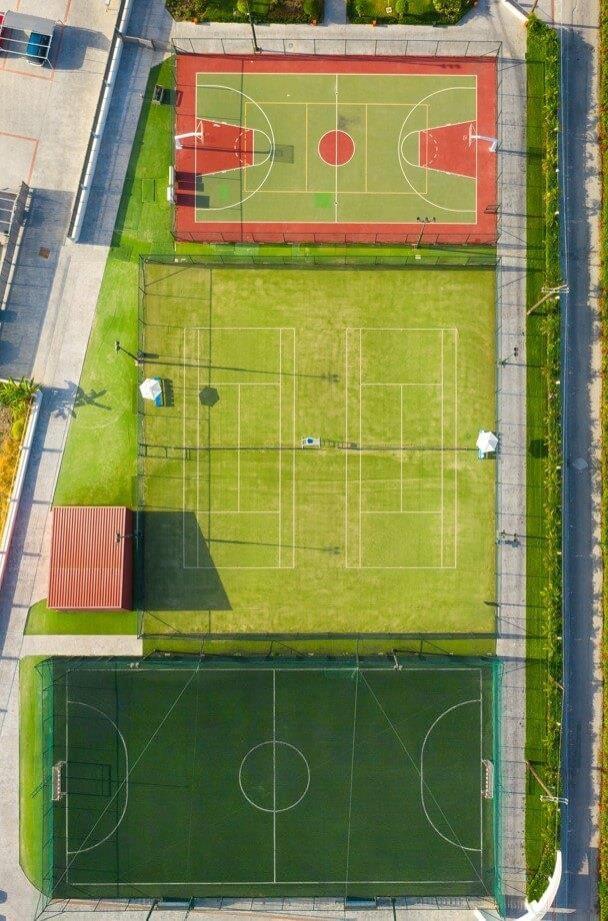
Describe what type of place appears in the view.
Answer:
sports ground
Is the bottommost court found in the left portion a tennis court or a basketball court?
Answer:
tennis court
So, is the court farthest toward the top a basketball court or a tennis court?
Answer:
basketball court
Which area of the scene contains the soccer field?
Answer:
bottom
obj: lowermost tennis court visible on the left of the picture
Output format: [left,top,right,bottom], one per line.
[183,328,295,568]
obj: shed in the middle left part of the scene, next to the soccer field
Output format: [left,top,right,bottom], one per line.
[47,506,132,609]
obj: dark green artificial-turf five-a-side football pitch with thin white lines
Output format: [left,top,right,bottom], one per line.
[53,657,497,899]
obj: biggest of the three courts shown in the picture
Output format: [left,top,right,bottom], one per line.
[176,54,497,243]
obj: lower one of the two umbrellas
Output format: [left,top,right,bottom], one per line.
[476,430,496,452]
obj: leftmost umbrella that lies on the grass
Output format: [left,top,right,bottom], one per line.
[141,377,162,399]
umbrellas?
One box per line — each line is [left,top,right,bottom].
[141,377,162,399]
[476,430,496,452]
